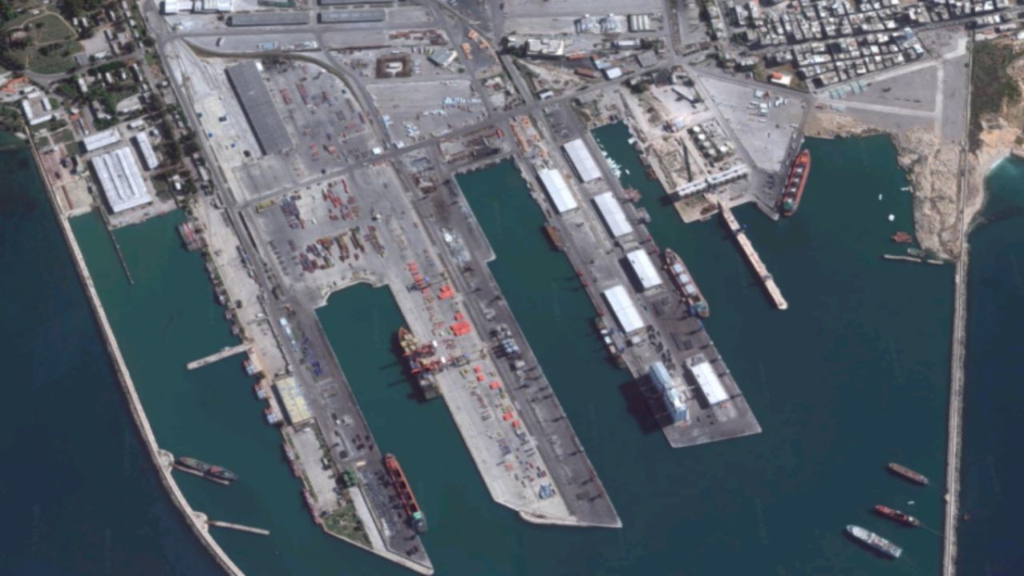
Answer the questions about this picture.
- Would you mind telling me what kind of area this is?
port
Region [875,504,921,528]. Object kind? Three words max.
ship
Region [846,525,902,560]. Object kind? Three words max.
ship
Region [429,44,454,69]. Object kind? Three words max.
building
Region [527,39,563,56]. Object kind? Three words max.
building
